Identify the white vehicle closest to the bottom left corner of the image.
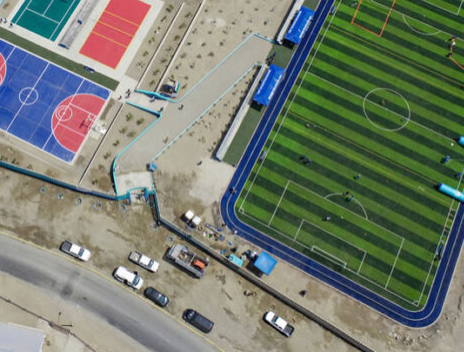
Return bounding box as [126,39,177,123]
[59,241,90,262]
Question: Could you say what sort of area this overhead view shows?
sports ground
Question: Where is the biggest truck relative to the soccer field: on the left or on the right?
left of it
